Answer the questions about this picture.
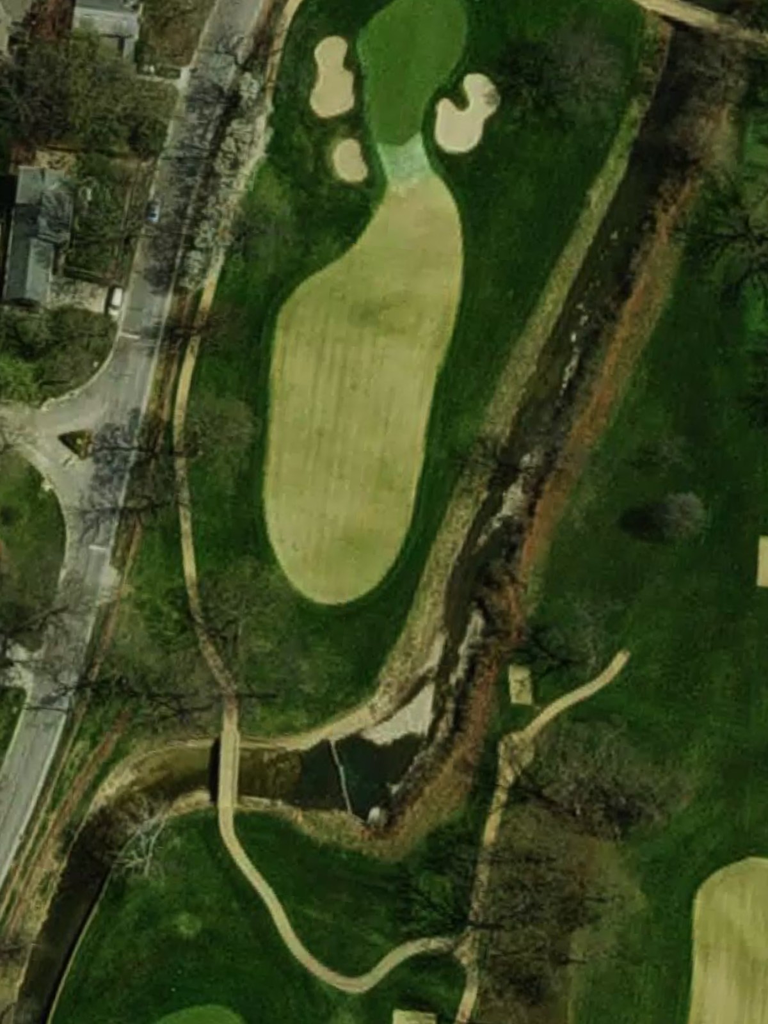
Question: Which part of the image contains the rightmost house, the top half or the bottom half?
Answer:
top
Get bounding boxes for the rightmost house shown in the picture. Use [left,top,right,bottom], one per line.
[72,0,136,59]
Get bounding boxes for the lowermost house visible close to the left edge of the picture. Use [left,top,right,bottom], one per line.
[5,165,77,304]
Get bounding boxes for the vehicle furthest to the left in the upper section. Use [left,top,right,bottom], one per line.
[108,286,121,313]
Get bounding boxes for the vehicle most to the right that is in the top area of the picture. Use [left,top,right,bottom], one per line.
[147,199,161,223]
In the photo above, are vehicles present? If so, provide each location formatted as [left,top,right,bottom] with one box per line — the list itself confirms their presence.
[108,286,121,313]
[147,199,161,223]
